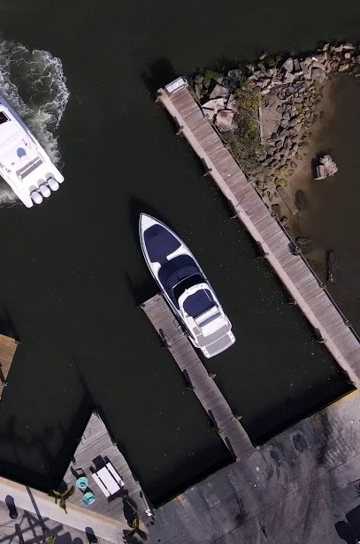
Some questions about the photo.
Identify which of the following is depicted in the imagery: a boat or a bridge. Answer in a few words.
boat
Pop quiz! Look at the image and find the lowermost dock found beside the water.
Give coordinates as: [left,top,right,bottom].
[49,408,153,527]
